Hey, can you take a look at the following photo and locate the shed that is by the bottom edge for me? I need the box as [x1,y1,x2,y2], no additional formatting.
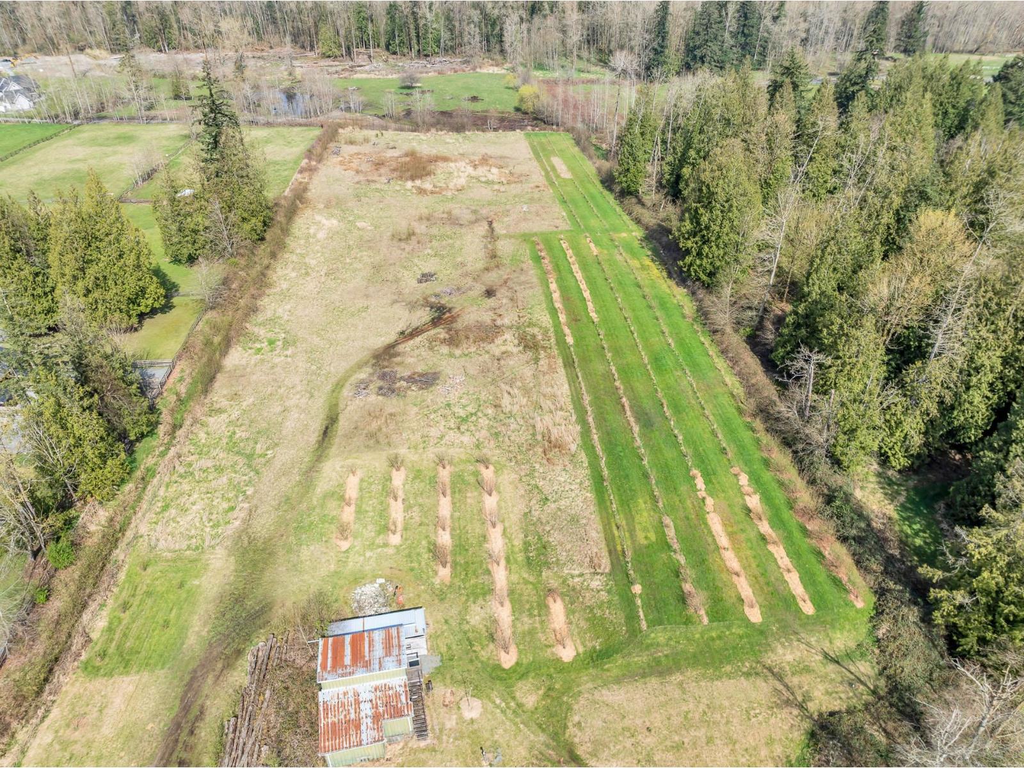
[300,604,431,768]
